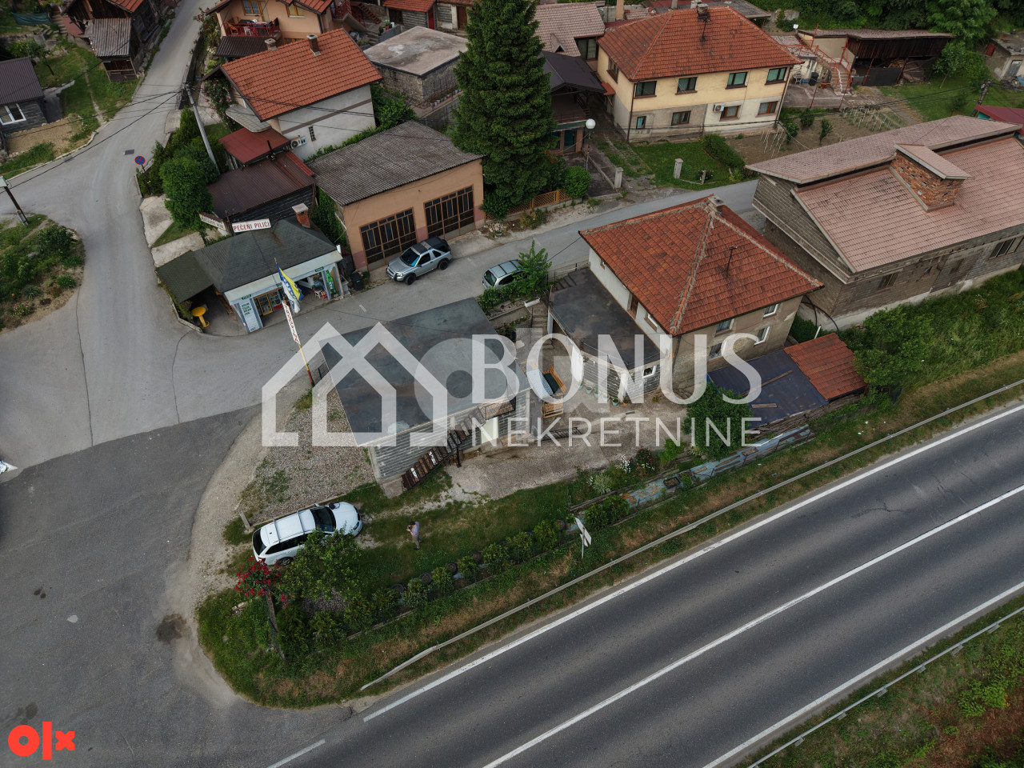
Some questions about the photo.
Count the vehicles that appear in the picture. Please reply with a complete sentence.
There are 3 vehicles in the image.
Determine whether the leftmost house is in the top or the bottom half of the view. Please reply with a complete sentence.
The top half of the photo is where the leftmost house is.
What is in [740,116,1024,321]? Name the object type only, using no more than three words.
building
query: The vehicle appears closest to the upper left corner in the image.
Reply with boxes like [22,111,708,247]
[378,232,455,287]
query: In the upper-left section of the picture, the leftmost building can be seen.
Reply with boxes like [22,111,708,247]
[0,57,60,133]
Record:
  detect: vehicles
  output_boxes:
[248,507,365,574]
[484,254,536,295]
[378,232,455,287]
